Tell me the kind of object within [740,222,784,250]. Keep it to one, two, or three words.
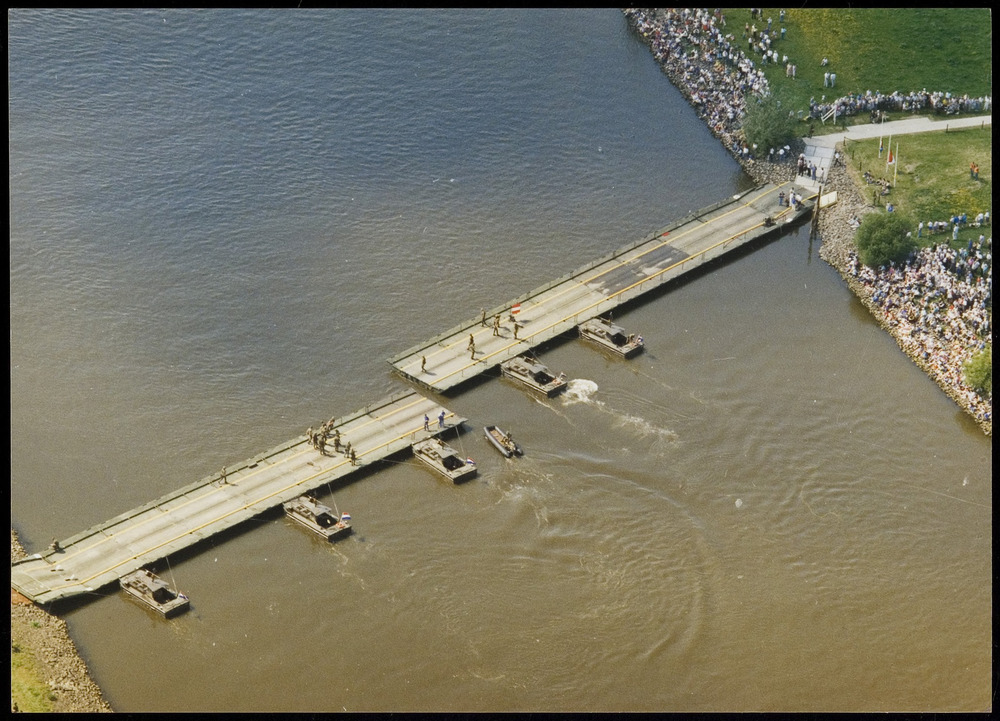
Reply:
pier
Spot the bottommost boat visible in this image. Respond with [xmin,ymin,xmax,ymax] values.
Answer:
[128,556,191,623]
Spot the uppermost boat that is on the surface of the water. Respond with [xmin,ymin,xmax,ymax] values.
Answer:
[583,314,646,360]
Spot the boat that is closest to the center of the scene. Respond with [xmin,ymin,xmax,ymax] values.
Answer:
[505,352,567,401]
